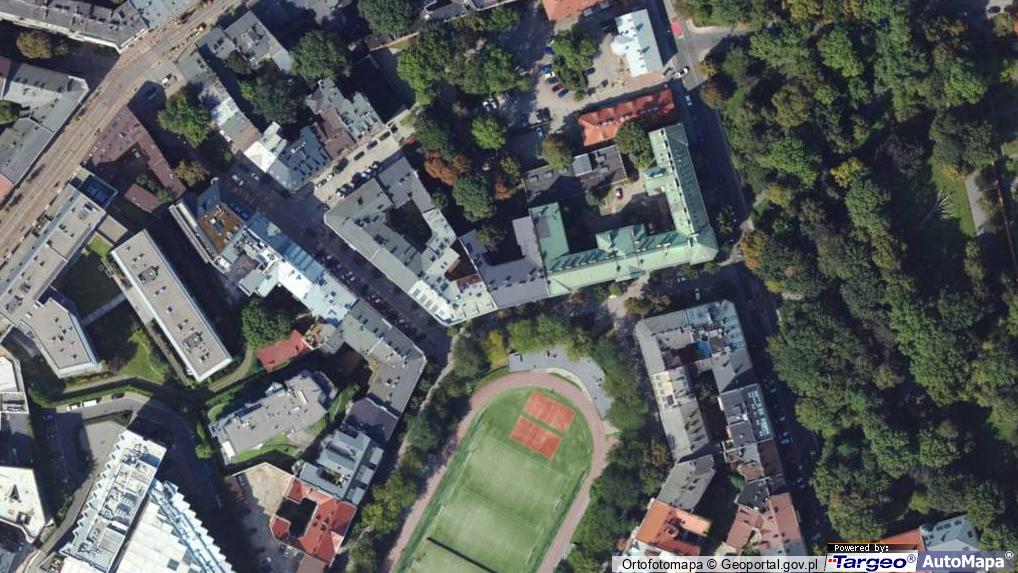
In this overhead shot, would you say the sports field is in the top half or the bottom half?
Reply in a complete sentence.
The sports field sits in the bottom half of the picture.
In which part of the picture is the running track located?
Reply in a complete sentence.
The running track sits in the bottom section of the image.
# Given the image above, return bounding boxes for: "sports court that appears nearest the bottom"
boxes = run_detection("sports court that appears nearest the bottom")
[510,416,562,460]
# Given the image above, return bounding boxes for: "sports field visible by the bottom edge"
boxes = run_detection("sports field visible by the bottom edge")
[402,382,591,573]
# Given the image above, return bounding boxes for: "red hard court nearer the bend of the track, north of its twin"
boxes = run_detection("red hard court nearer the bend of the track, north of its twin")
[523,390,577,433]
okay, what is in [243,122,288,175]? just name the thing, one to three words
house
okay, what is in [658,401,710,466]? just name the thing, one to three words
building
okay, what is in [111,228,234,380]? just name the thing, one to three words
building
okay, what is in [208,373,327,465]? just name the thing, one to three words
house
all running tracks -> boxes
[389,369,603,573]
